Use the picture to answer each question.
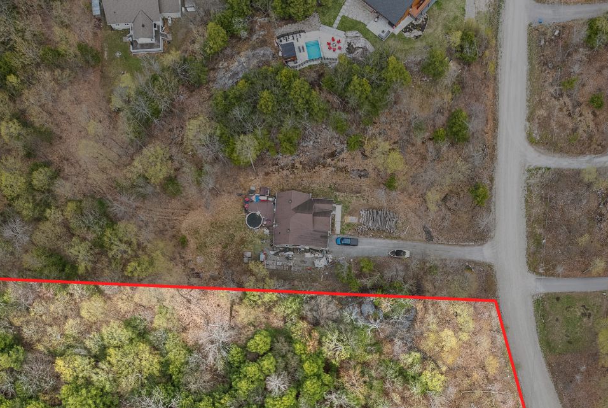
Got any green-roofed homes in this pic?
No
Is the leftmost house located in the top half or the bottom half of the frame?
top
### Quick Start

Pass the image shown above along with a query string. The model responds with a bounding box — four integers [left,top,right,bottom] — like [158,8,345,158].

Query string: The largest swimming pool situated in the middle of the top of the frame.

[304,39,322,61]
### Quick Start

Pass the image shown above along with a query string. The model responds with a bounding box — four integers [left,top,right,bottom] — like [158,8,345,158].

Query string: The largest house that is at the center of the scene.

[248,190,336,249]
